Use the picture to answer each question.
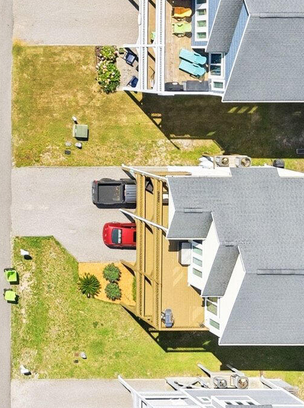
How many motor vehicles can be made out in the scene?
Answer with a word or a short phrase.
two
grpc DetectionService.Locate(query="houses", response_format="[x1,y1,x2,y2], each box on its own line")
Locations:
[122,0,304,103]
[116,372,304,408]
[119,158,304,347]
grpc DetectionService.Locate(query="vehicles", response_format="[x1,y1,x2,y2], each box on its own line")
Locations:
[87,175,134,207]
[95,219,134,247]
